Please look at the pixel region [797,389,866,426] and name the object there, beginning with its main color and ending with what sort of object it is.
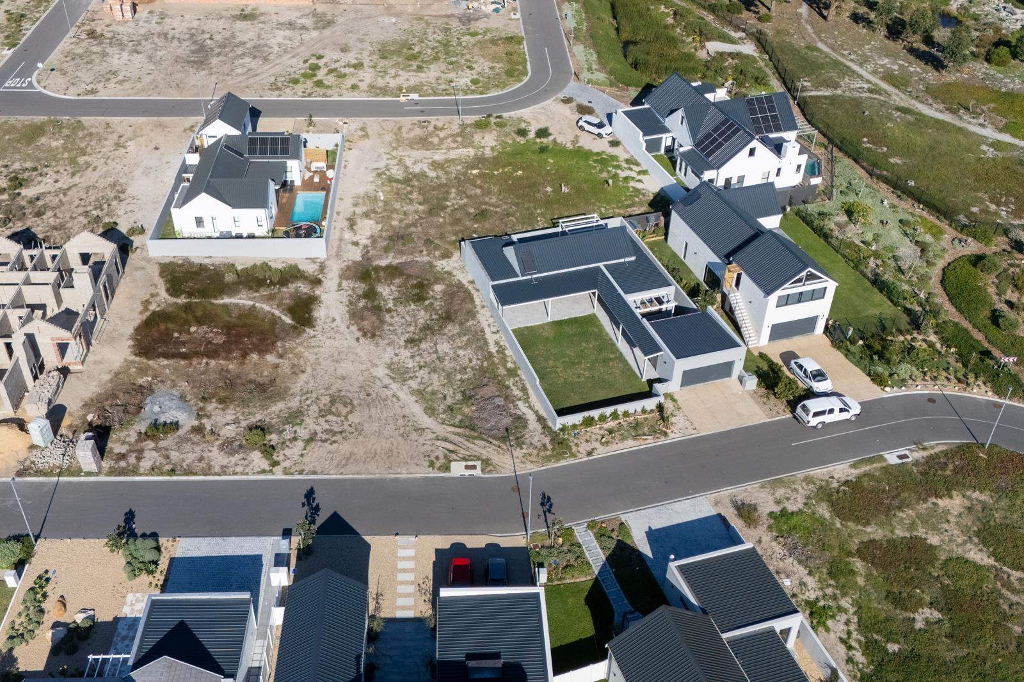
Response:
white truck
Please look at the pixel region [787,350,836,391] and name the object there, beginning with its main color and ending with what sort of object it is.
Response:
white car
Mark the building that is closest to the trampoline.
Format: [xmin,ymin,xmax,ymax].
[171,125,306,236]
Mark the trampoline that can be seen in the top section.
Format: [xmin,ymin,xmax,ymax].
[281,218,319,239]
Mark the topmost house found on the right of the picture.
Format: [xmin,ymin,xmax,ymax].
[617,74,821,191]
